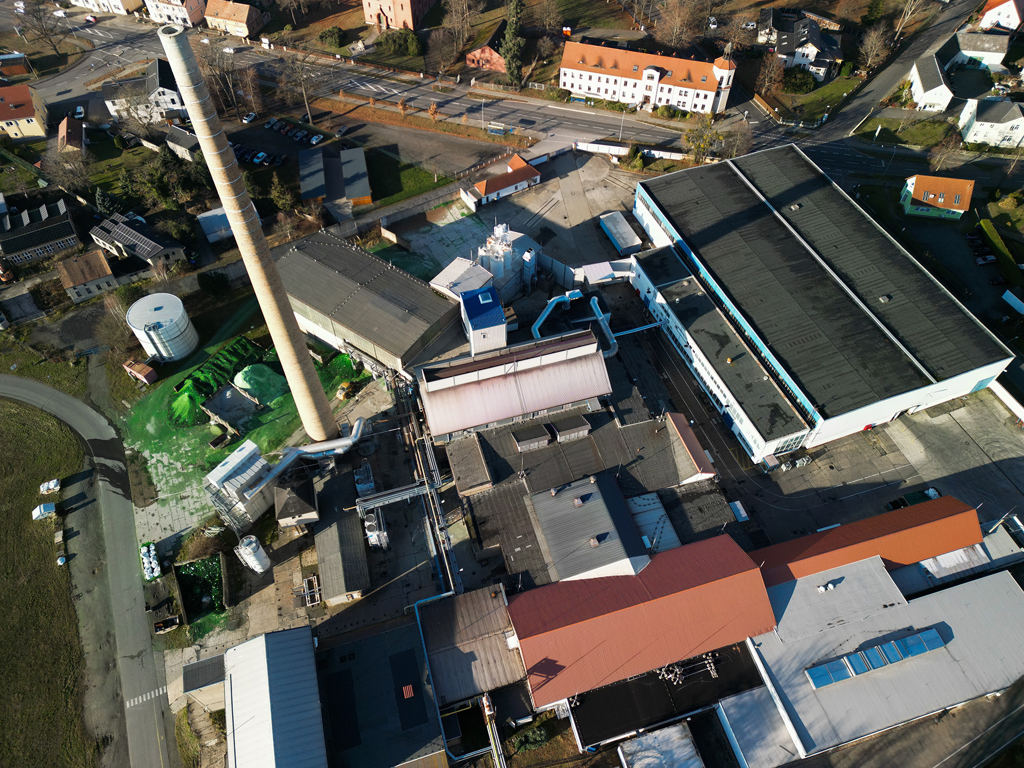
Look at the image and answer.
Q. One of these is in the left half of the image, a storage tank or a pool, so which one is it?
storage tank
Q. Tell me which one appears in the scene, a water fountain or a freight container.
freight container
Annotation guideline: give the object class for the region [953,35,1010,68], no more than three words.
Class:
barn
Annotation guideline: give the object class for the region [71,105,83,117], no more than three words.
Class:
vehicle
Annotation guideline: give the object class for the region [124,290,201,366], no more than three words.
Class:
storage tank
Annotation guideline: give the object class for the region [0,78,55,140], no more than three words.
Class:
house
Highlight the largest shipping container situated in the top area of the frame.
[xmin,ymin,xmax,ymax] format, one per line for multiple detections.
[599,211,642,256]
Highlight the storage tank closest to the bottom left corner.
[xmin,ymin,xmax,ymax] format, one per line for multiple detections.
[231,533,279,582]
